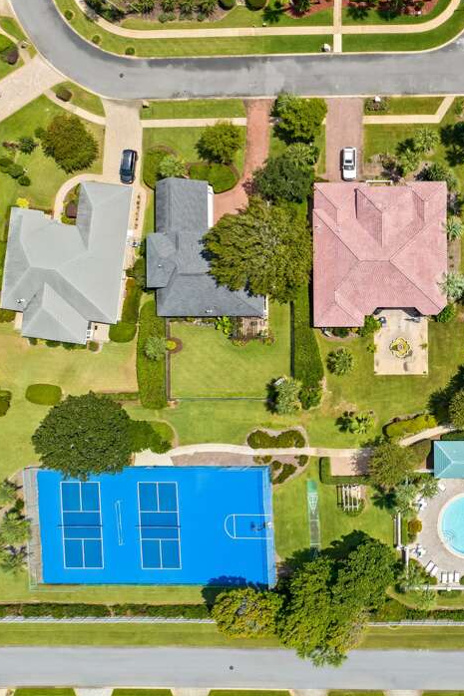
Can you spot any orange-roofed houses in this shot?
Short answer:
No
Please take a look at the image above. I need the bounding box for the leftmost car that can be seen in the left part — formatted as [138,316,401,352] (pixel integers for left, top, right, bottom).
[117,149,136,182]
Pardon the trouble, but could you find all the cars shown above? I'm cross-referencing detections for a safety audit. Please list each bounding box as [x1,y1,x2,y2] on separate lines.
[341,146,356,179]
[117,149,136,182]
